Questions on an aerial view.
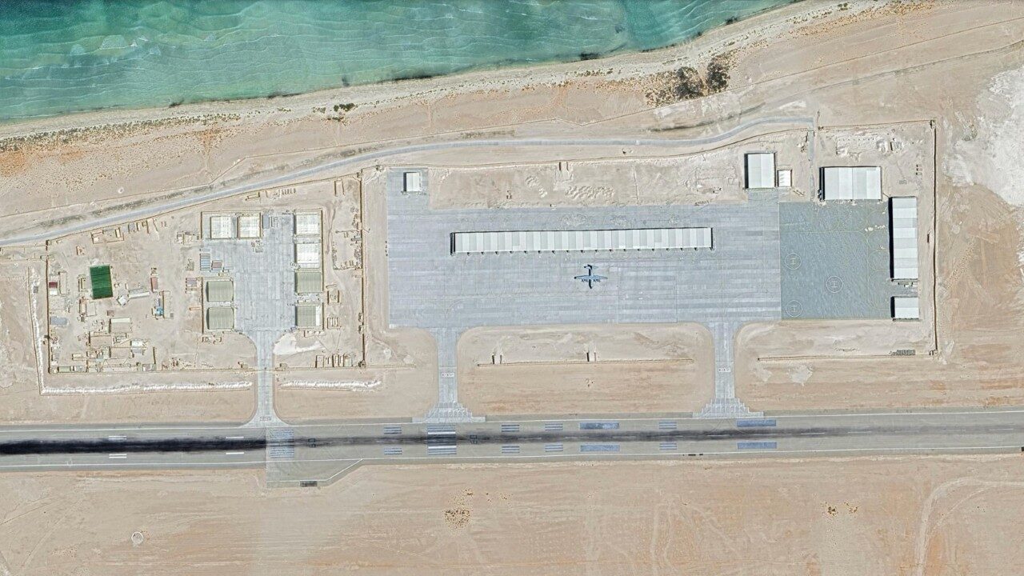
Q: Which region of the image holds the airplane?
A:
center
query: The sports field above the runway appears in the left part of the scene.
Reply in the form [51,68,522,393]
[90,264,113,299]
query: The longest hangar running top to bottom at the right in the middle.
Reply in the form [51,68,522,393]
[892,197,918,281]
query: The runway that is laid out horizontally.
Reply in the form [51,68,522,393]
[0,405,1024,488]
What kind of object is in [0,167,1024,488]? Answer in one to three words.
airport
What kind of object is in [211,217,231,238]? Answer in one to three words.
hangar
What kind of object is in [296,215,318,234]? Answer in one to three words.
hangar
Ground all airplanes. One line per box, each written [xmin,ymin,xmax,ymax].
[576,266,608,289]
